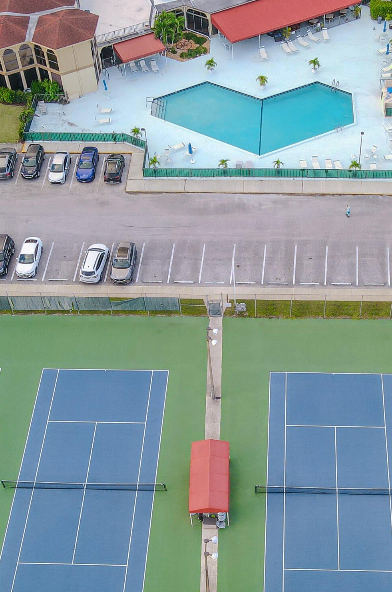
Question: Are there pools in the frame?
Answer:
Yes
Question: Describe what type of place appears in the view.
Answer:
sports ground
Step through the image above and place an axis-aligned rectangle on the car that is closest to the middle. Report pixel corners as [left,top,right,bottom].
[109,239,136,282]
